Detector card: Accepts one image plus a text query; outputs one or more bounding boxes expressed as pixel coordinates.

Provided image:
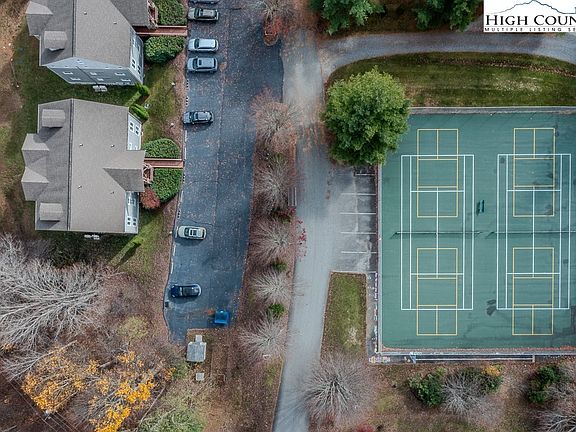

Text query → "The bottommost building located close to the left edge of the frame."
[23,98,156,232]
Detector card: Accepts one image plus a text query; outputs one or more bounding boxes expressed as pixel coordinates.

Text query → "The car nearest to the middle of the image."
[177,226,207,240]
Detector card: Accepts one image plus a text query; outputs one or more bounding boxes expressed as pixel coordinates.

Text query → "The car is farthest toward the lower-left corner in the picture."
[170,284,202,298]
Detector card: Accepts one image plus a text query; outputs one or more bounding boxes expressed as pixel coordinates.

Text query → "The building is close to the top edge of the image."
[27,0,161,82]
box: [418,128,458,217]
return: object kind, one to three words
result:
sports court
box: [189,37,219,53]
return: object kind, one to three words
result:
car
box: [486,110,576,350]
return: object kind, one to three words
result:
tennis court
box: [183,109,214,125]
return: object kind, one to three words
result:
car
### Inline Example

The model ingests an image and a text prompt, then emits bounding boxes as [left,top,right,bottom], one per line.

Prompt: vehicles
[189,37,219,53]
[170,284,202,298]
[183,109,214,125]
[177,226,207,240]
[188,56,218,73]
[188,6,219,23]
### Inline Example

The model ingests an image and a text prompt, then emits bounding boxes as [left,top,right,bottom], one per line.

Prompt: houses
[27,0,161,82]
[23,98,156,232]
